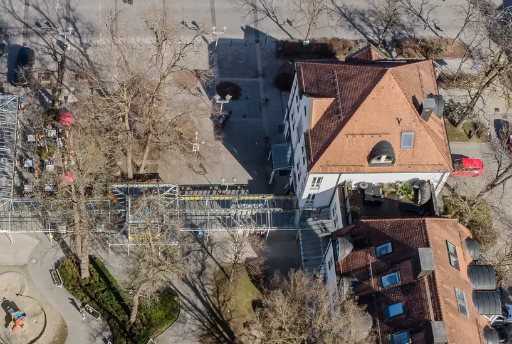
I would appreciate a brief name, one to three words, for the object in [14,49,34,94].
vehicle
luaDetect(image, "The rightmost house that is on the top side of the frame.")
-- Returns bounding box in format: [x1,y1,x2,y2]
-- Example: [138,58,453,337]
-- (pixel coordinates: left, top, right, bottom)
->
[288,25,454,220]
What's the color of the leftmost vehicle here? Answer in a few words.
black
